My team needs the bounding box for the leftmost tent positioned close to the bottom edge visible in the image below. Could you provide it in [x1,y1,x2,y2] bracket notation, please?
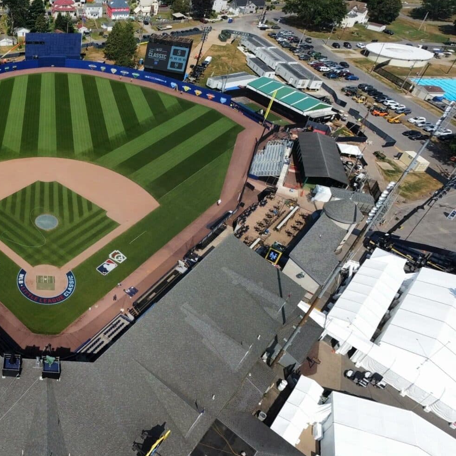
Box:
[264,375,324,451]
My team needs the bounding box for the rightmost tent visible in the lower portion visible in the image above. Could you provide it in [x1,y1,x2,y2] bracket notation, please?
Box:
[414,385,456,429]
